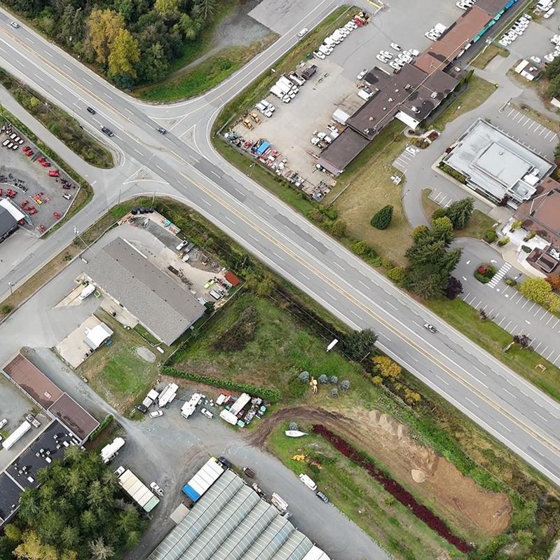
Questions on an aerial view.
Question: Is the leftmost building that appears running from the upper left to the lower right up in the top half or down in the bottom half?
bottom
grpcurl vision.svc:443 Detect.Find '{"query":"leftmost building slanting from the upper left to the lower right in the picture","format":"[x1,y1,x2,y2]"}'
[3,354,65,418]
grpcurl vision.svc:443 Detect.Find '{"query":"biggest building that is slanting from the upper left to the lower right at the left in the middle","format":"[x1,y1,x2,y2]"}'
[82,237,206,348]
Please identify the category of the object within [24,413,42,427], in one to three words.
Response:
vehicle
